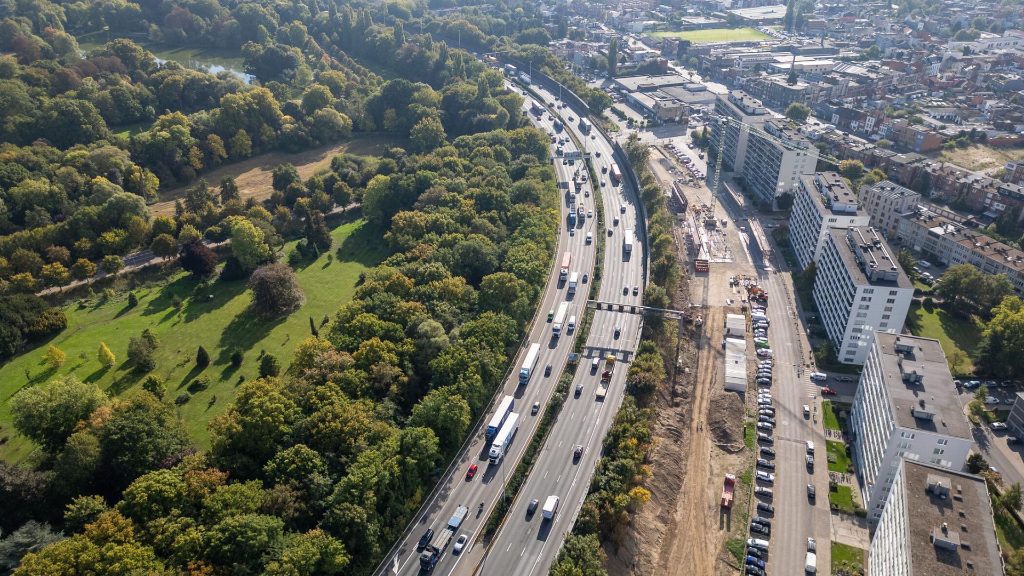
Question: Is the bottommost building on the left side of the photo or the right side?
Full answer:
It is on the right.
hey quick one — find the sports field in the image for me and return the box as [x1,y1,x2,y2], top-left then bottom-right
[656,28,773,43]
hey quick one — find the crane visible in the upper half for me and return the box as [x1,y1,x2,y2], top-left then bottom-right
[703,104,843,224]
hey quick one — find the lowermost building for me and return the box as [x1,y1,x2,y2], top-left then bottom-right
[870,455,1007,576]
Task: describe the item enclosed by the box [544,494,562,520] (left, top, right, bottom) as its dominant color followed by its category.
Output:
white vehicle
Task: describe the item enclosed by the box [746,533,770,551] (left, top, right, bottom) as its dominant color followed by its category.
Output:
white vehicle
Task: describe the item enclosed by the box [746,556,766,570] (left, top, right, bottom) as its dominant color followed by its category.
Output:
blue car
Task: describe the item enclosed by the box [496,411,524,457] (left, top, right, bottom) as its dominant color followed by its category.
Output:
white truck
